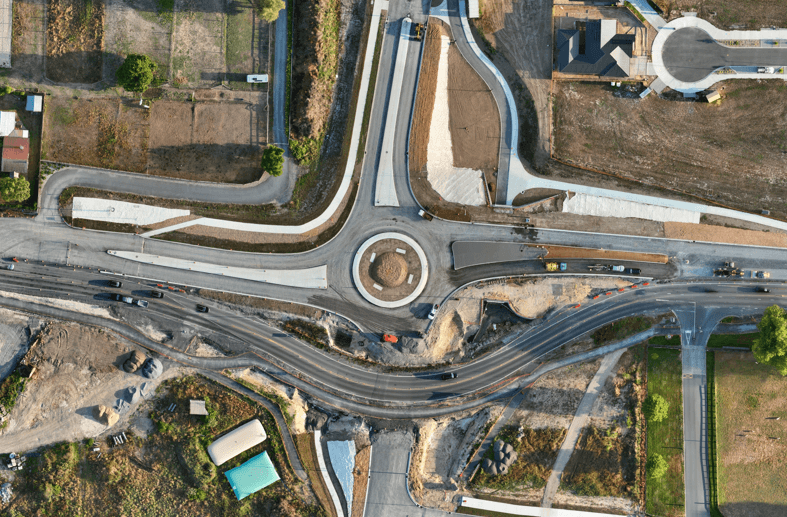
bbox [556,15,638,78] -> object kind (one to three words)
house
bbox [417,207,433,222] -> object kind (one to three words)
vehicle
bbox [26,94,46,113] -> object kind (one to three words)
shed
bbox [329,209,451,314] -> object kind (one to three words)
roundabout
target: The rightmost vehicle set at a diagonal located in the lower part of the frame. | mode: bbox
[426,303,440,321]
